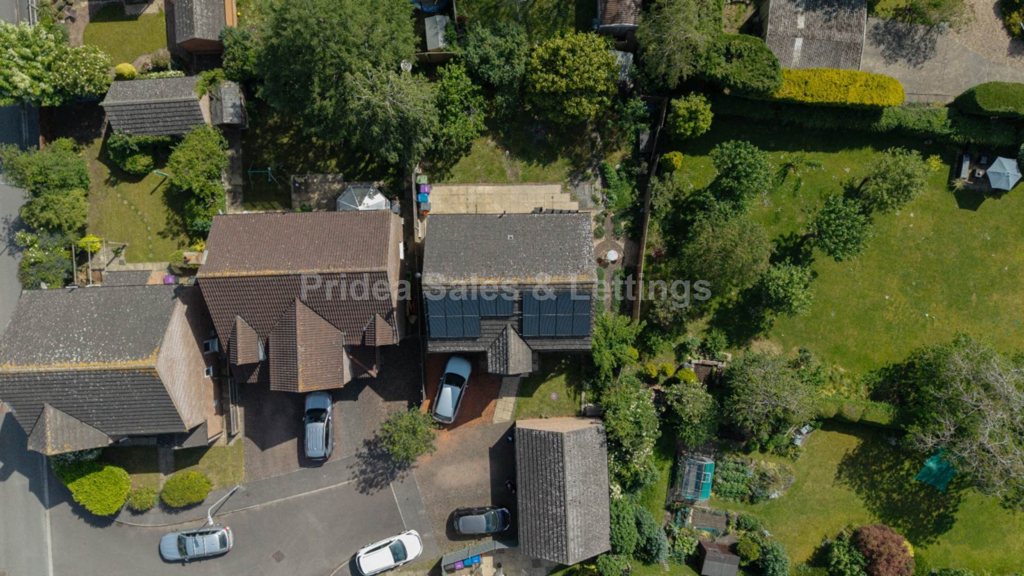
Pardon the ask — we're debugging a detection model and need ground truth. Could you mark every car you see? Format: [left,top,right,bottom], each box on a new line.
[431,354,471,424]
[161,523,235,562]
[453,504,511,537]
[301,391,336,461]
[354,528,425,576]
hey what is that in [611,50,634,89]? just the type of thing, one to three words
shed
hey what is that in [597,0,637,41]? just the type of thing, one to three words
building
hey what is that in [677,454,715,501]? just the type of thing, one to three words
greenhouse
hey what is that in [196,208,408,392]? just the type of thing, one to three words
house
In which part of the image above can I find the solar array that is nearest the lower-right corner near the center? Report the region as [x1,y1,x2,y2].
[523,294,592,336]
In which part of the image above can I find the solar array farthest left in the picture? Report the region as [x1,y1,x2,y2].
[426,295,513,337]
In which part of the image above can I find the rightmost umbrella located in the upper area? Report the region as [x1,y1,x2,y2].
[979,157,1022,190]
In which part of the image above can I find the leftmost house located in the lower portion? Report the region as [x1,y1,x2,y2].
[0,259,220,455]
